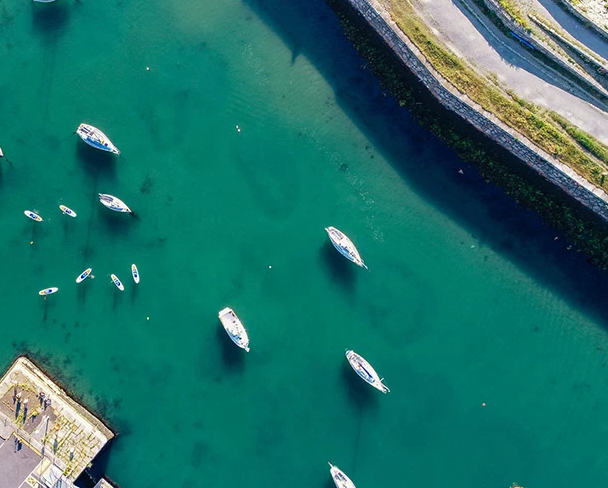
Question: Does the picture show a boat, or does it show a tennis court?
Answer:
boat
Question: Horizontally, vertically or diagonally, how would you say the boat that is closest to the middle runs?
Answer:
diagonally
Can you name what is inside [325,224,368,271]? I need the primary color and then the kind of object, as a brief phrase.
white boat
